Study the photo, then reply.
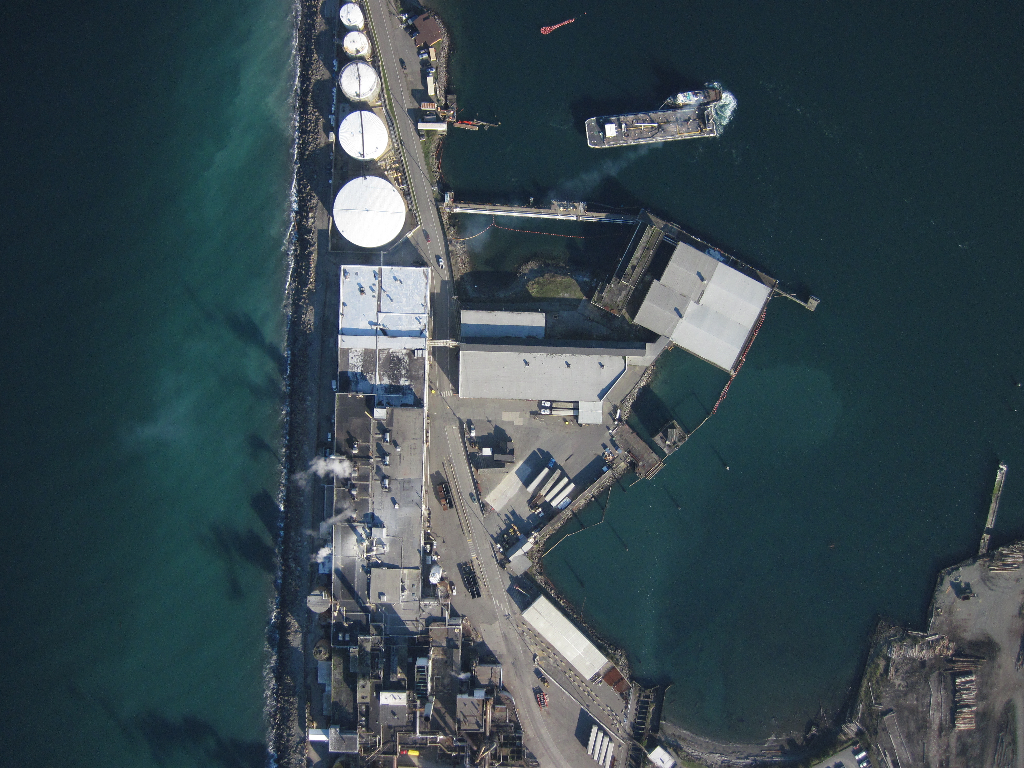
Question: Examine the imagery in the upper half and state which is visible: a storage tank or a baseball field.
storage tank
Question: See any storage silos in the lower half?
Yes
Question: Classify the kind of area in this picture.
port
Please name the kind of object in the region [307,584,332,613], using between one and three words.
silo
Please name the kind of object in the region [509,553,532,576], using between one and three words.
building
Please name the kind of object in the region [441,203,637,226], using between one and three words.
pier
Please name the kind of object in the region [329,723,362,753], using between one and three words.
building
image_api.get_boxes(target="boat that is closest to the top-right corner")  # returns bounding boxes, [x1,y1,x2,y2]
[663,89,722,108]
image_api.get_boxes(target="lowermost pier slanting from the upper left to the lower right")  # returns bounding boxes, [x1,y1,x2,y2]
[611,423,662,477]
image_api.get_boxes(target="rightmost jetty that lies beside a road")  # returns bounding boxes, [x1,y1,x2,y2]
[979,465,1006,554]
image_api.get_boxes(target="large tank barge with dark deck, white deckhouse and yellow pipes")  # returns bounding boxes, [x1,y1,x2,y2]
[585,105,716,149]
